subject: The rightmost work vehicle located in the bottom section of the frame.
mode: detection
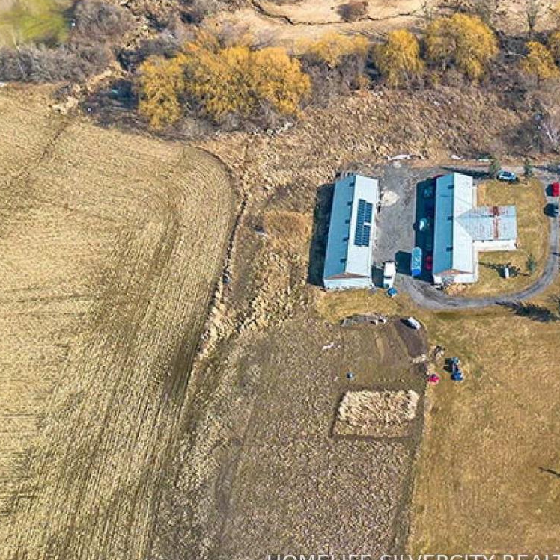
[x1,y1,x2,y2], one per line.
[449,359,464,387]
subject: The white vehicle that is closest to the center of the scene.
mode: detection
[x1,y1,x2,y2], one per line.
[381,260,395,286]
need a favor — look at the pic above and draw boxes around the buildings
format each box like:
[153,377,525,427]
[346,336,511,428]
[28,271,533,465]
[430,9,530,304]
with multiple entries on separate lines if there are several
[433,172,517,286]
[324,174,378,286]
